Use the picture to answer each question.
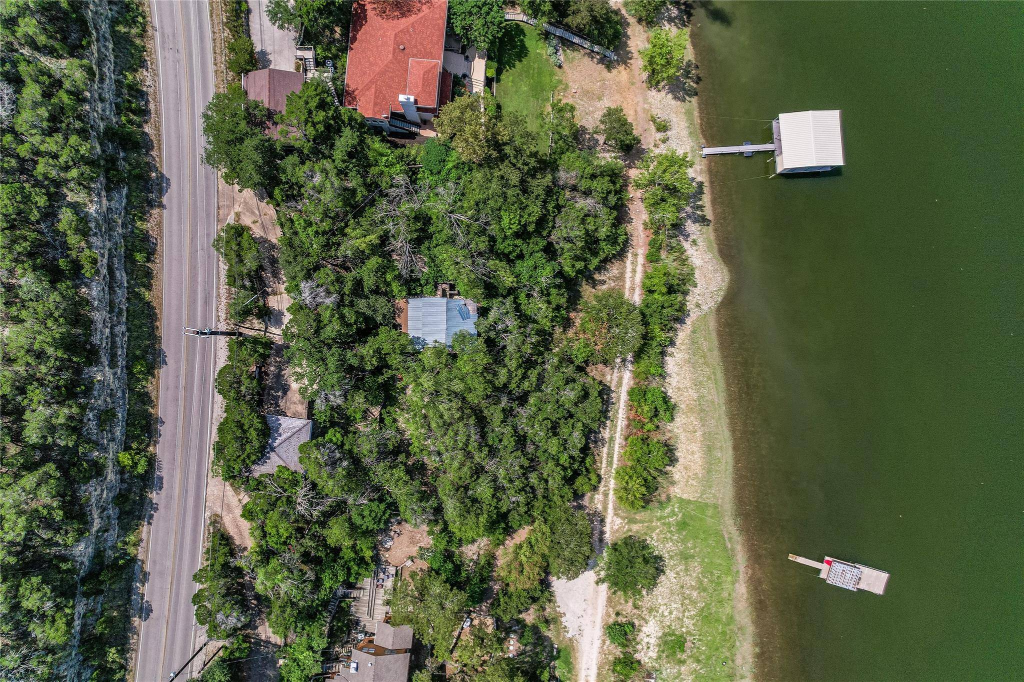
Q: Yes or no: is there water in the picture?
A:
Yes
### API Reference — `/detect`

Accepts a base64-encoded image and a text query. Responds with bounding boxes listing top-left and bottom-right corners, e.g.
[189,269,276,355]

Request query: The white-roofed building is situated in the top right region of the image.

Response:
[772,110,847,176]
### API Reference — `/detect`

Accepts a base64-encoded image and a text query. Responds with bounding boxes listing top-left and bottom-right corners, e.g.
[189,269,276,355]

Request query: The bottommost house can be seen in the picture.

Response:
[330,612,415,682]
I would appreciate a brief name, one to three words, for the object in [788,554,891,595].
pier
